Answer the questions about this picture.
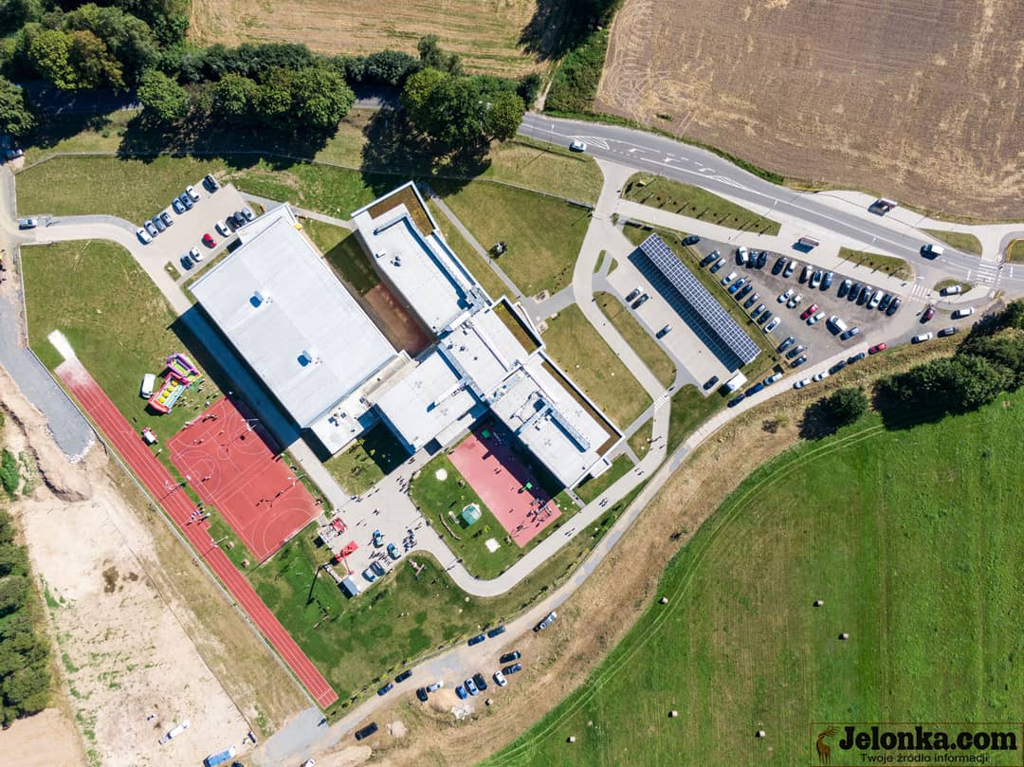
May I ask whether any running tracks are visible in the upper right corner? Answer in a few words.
No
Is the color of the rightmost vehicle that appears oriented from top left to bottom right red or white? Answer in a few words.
white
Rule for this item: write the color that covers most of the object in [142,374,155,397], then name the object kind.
white vehicle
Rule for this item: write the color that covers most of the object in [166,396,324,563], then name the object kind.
red sports court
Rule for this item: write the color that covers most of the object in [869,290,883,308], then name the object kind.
white car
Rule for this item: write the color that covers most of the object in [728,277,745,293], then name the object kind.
blue car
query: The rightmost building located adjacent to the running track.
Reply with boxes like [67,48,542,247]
[311,180,626,491]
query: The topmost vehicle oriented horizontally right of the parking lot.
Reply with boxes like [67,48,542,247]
[919,243,949,258]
